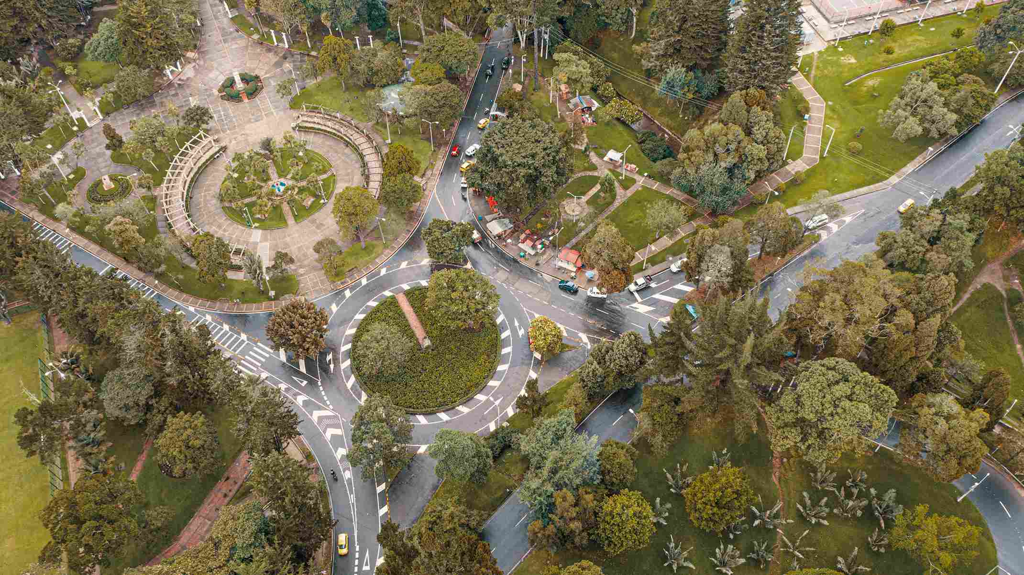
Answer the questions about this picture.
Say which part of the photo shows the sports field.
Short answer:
bottom left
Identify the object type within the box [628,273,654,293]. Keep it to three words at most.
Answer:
vehicle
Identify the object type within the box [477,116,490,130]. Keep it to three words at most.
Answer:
vehicle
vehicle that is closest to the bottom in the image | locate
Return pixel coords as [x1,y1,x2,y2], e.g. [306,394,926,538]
[335,532,349,559]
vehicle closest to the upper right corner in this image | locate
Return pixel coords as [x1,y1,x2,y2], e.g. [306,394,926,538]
[898,198,915,213]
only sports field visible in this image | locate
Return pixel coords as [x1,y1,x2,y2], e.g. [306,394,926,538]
[0,313,52,575]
